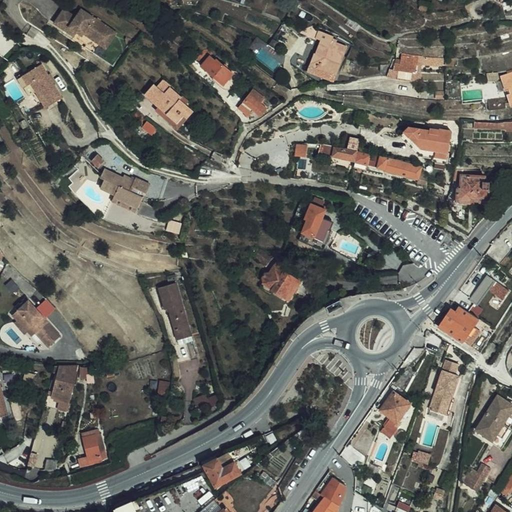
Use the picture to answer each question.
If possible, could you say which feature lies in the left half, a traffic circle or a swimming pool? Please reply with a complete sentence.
The one visible in the left half is a swimming pool.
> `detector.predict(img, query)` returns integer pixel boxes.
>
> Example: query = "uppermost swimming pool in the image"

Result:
[255,48,281,70]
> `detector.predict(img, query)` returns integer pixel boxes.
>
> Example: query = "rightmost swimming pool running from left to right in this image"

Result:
[462,89,483,101]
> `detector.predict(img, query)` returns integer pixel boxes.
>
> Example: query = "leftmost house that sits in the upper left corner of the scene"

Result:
[16,63,61,108]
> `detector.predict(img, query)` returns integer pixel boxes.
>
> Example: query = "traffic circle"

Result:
[340,299,410,369]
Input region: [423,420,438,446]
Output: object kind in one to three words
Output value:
swimming pool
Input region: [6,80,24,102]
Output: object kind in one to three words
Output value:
swimming pool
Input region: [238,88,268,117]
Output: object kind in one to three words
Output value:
house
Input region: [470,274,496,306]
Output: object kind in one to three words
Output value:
shed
